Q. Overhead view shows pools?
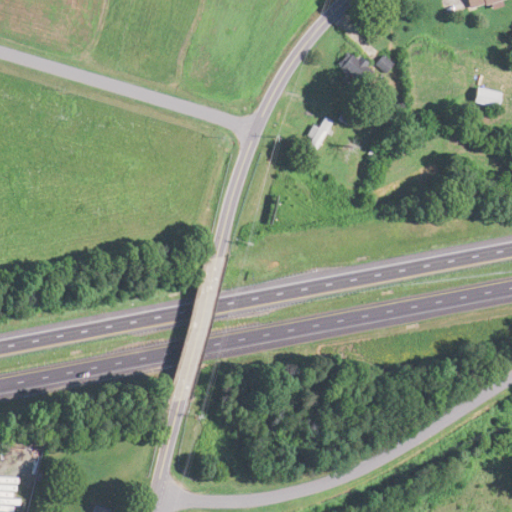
No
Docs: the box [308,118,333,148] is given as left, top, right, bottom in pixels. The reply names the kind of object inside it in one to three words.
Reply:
house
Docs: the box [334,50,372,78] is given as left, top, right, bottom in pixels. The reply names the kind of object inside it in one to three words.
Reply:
house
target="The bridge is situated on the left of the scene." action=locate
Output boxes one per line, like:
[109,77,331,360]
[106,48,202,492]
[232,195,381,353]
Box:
[168,256,226,403]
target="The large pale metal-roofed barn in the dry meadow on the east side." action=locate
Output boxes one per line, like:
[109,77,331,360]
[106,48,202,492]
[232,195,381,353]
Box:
[476,87,504,106]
